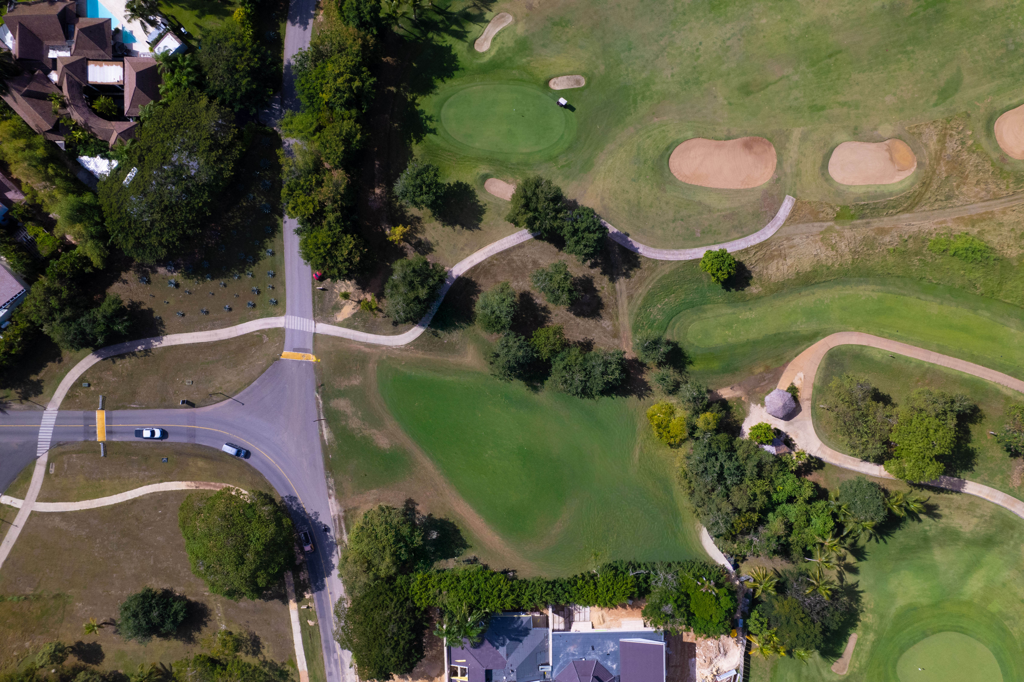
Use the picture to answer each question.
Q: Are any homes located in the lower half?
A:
Yes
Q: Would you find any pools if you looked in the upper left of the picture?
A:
Yes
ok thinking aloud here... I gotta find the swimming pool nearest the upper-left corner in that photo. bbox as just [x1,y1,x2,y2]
[86,0,121,26]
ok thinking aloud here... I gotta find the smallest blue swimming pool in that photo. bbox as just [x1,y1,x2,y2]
[121,23,139,44]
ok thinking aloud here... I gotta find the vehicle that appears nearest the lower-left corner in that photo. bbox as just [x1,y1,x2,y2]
[134,428,164,440]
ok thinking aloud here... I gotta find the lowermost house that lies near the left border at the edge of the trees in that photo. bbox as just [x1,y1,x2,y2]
[0,264,31,320]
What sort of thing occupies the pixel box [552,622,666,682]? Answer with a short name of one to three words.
house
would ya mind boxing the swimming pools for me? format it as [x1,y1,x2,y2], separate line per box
[86,0,121,26]
[121,23,139,44]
